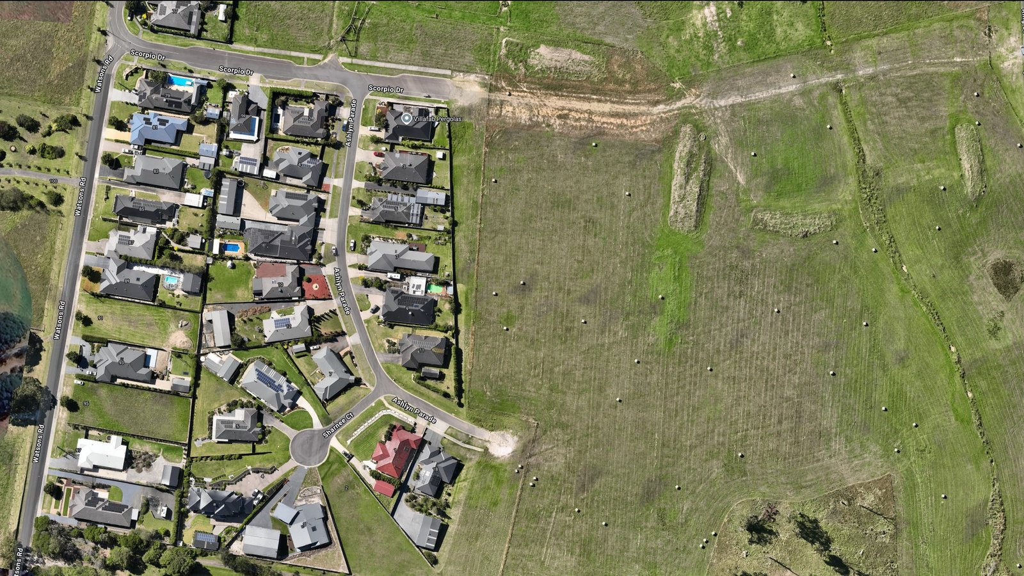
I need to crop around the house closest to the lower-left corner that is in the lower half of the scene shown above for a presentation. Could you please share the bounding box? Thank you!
[66,487,139,527]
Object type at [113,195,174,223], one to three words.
house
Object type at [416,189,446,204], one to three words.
shed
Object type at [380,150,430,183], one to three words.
house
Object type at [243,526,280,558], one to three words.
shed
